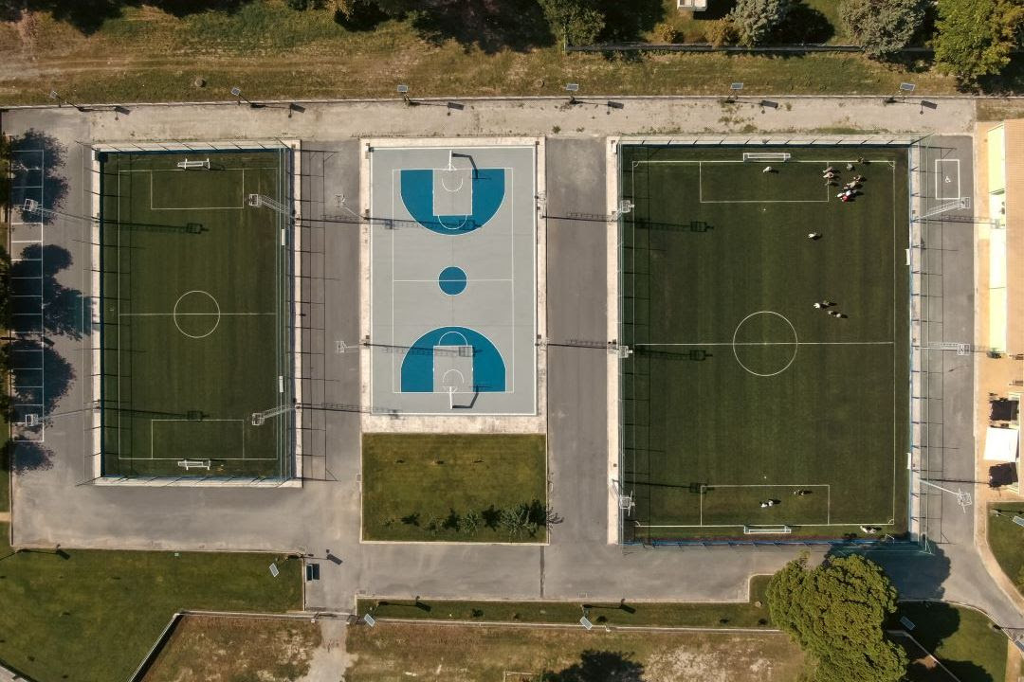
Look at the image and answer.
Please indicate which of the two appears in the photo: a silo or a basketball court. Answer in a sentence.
I can see a basketball court in this picture.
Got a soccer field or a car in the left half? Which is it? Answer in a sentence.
It is a soccer field that can be seen in the left half.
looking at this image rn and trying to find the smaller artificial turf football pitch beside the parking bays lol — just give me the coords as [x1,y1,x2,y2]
[92,142,301,486]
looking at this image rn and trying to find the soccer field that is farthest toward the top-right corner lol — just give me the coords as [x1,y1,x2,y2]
[607,134,921,545]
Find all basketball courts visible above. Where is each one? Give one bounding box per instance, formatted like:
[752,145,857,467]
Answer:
[360,138,545,434]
